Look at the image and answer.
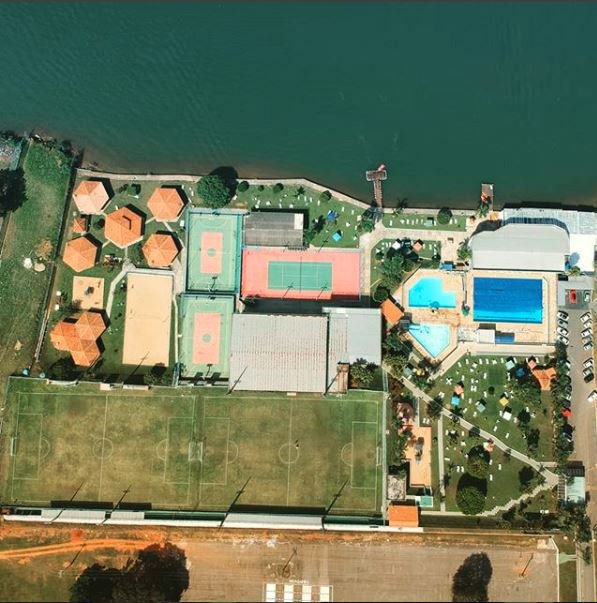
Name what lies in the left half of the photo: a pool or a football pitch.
football pitch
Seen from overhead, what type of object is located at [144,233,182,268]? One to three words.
gazebo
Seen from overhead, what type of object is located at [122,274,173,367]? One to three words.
sports court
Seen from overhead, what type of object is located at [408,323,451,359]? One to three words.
swimming pool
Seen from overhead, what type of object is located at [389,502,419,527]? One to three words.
shed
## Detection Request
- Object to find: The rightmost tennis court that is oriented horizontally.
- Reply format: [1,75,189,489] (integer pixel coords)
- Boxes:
[241,248,360,300]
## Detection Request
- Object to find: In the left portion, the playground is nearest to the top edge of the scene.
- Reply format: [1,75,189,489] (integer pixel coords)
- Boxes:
[72,276,104,310]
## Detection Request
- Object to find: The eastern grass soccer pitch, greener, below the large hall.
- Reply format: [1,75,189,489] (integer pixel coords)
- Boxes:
[196,392,384,519]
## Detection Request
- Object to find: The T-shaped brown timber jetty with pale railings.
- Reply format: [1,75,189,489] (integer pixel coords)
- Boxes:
[366,170,387,209]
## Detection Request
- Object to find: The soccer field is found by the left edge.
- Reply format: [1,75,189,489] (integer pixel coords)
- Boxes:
[1,377,200,512]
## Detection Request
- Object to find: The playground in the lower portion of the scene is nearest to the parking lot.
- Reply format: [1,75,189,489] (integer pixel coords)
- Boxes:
[404,424,432,486]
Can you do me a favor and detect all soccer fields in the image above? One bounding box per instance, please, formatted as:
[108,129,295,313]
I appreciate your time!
[196,392,384,519]
[1,377,200,512]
